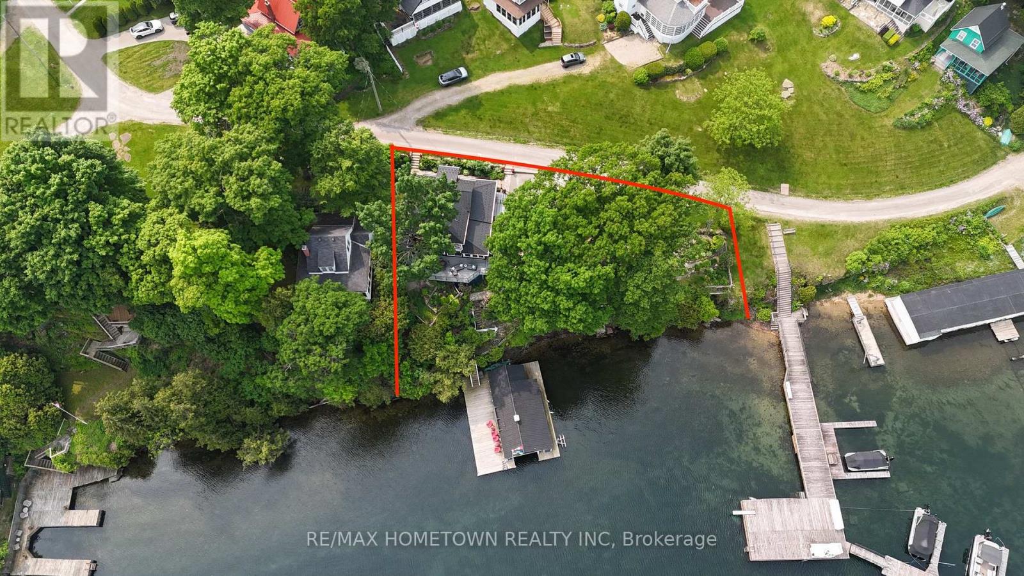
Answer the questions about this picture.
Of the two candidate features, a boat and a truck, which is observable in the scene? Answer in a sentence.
There is a boat in the scene.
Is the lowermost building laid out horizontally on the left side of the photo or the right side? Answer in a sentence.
The lowermost building laid out horizontally appears in the right half of the scene.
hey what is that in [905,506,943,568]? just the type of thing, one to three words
boat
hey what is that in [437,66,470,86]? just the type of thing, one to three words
car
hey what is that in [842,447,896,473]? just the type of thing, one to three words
boat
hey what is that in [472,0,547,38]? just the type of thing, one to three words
house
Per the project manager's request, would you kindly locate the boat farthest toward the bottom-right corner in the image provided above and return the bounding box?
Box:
[965,535,1010,576]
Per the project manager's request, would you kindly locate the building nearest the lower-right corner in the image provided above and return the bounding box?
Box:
[879,265,1024,349]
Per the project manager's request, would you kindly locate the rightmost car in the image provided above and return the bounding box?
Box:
[559,51,587,69]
